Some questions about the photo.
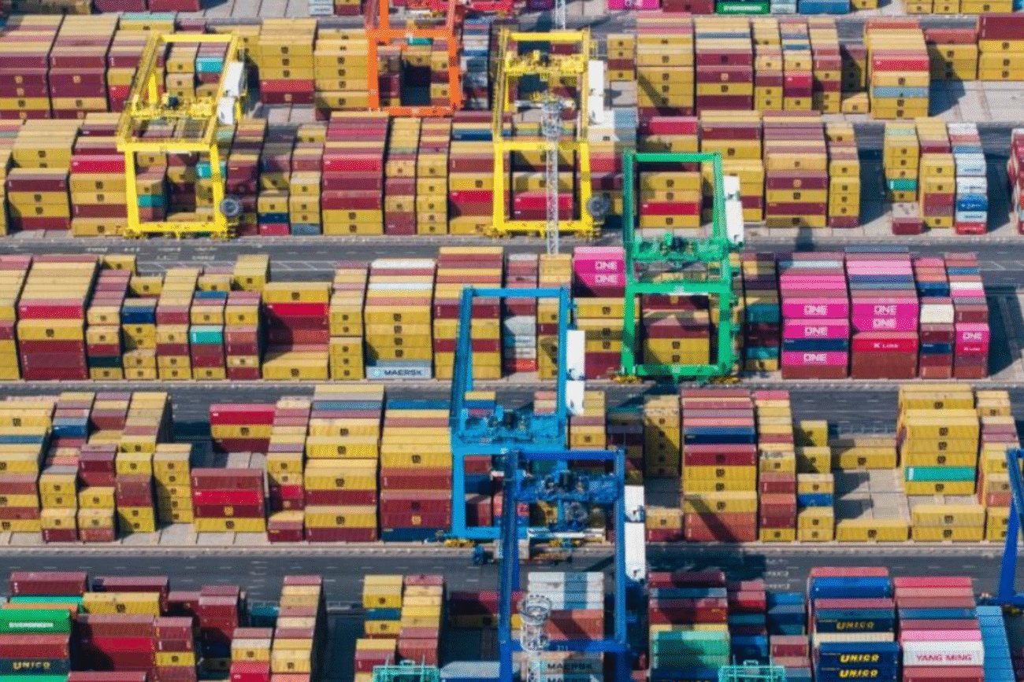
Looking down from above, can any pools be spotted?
No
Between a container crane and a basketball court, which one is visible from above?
container crane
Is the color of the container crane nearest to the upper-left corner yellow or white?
yellow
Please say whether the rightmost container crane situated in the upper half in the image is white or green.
green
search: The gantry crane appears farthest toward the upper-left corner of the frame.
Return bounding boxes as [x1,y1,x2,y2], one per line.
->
[112,27,251,239]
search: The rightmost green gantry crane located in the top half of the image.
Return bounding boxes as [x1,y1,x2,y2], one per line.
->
[615,150,749,385]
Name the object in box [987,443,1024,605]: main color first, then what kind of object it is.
blue container crane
